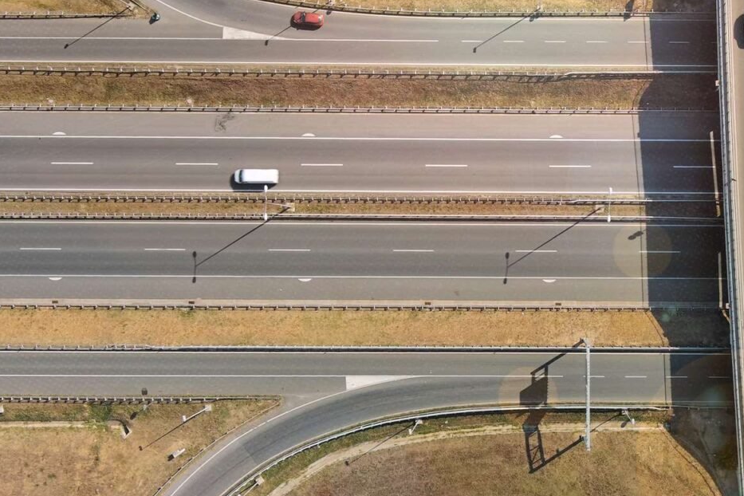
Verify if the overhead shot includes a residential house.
No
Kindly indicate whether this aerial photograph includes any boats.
No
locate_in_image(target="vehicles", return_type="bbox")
[292,12,325,27]
[234,169,279,186]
